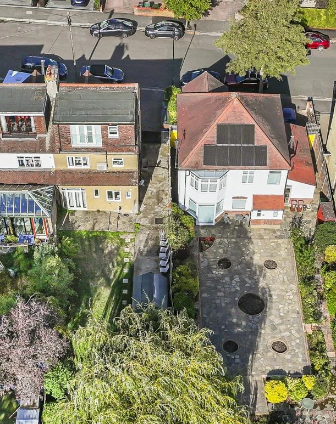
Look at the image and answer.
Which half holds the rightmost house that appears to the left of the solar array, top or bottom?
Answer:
top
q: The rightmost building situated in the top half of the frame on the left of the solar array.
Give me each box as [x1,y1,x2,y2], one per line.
[52,69,147,214]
